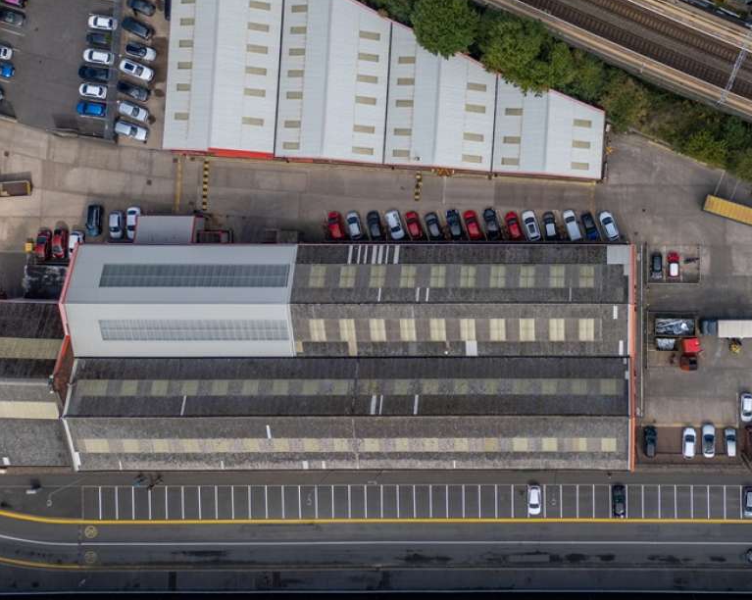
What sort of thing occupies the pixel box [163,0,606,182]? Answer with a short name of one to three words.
building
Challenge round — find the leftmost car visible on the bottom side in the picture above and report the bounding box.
[527,485,542,514]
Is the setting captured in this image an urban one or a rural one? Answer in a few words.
urban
